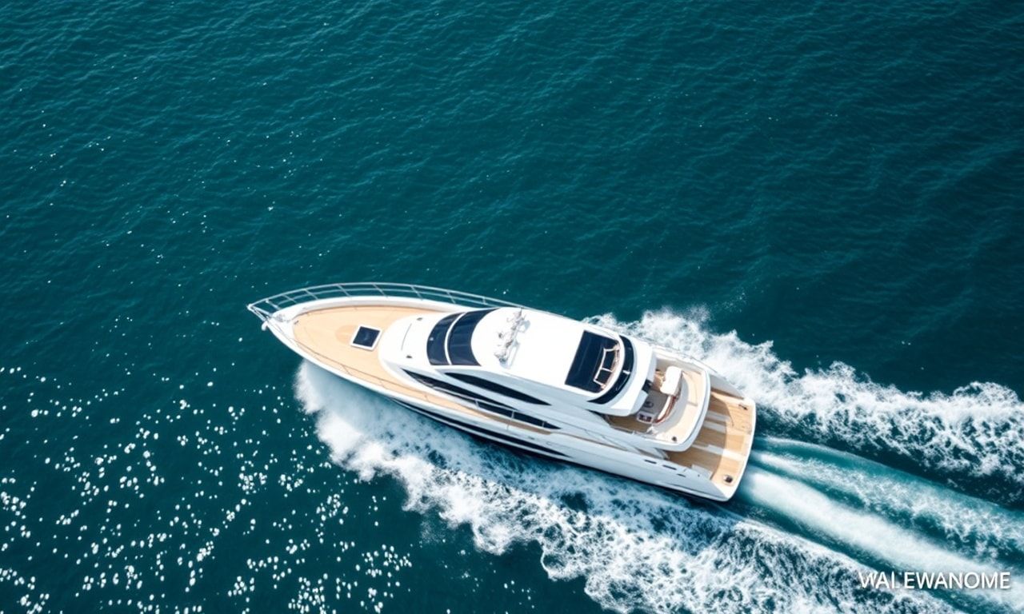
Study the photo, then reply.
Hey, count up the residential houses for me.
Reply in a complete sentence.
I count no residential houses.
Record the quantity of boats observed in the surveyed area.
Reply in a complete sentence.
The photo contains exactly 1 boat.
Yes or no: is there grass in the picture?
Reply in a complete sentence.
No, the picture contains no grass.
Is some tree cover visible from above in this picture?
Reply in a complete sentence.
No, there's no tree cover in this view.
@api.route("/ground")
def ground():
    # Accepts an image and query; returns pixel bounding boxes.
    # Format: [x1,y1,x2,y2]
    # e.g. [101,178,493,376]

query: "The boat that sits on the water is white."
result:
[248,283,755,503]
